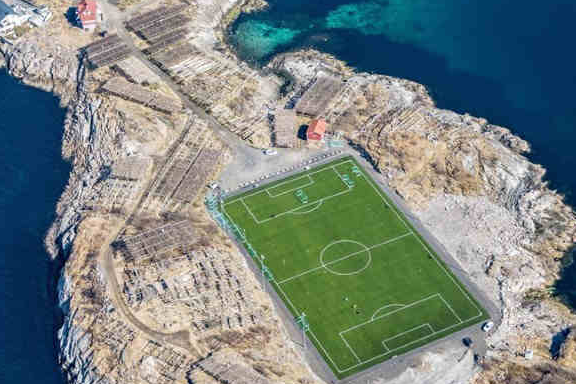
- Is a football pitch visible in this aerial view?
Yes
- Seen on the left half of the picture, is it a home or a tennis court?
home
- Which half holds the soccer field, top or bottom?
bottom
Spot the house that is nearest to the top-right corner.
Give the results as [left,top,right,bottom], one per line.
[306,113,324,142]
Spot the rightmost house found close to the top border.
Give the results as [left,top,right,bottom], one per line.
[77,0,100,34]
